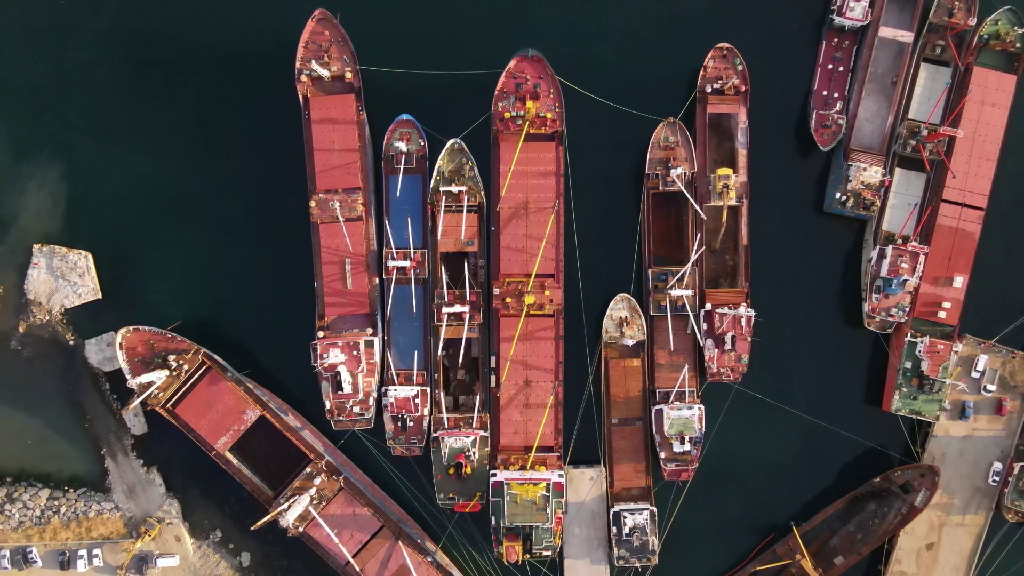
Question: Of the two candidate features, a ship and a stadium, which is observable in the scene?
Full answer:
It is a ship that can be seen here.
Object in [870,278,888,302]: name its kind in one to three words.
boat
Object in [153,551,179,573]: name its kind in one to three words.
vehicle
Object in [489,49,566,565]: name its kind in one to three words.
ship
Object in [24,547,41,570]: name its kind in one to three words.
car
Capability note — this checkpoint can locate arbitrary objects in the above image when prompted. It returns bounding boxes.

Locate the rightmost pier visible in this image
[883,333,1024,576]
